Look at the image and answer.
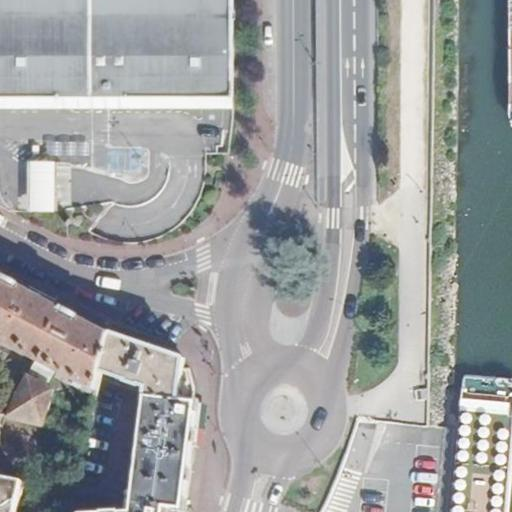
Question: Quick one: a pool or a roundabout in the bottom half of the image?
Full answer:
What appears in the bottom half of the image is a roundabout.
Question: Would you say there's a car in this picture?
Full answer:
Yes, I can see a car in this picture.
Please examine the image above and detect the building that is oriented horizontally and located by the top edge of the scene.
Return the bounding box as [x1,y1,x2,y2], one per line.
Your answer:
[0,0,234,111]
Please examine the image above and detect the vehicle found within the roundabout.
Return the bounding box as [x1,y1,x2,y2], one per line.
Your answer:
[312,406,326,430]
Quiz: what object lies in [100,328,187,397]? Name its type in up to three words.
building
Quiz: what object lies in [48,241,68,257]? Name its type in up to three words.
car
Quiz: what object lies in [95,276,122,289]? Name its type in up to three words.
vehicle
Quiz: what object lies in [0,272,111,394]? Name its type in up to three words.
house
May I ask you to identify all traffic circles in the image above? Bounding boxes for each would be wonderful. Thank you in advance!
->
[221,347,346,479]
